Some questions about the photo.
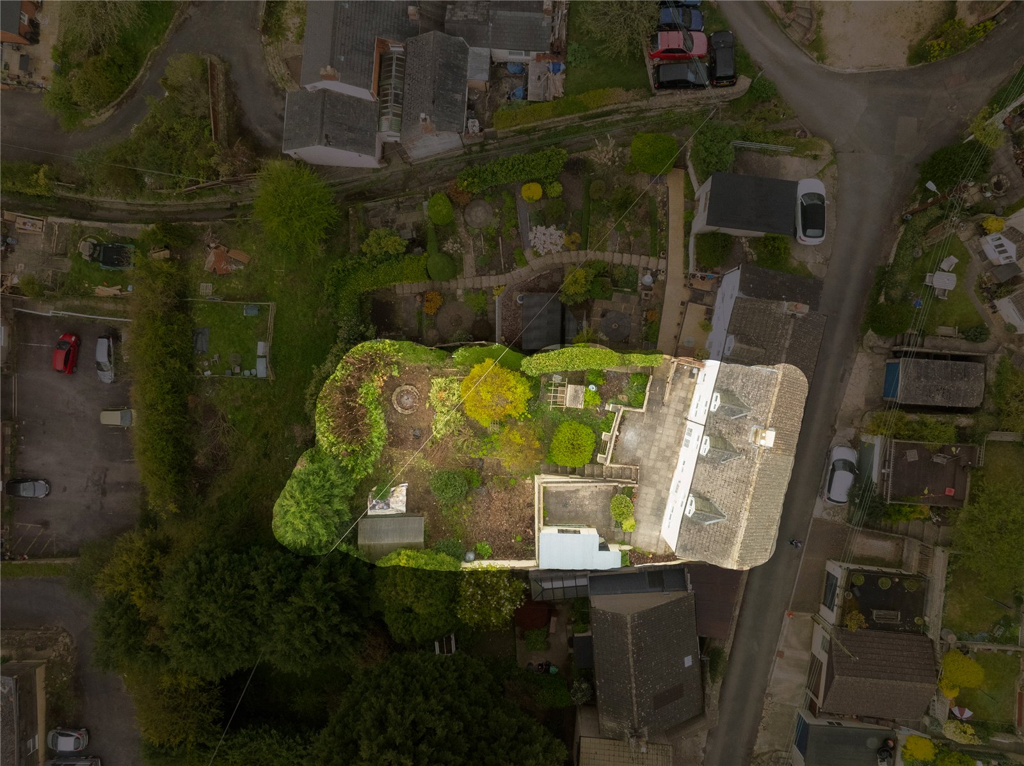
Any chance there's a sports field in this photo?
No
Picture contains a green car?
No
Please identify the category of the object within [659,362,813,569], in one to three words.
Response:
house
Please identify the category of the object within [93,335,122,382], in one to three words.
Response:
car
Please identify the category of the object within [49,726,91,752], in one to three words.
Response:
car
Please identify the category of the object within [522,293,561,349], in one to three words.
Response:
shed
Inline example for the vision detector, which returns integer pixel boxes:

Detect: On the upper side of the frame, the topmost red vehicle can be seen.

[649,32,707,63]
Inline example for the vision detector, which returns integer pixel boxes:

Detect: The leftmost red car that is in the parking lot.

[51,332,85,376]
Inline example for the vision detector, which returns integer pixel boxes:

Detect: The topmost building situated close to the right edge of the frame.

[961,215,1024,276]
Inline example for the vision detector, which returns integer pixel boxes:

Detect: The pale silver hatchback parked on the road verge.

[820,445,858,504]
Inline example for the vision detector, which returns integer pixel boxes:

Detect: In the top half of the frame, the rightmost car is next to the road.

[795,180,827,245]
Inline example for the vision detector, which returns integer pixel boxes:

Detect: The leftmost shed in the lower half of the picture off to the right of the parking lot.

[356,510,428,562]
